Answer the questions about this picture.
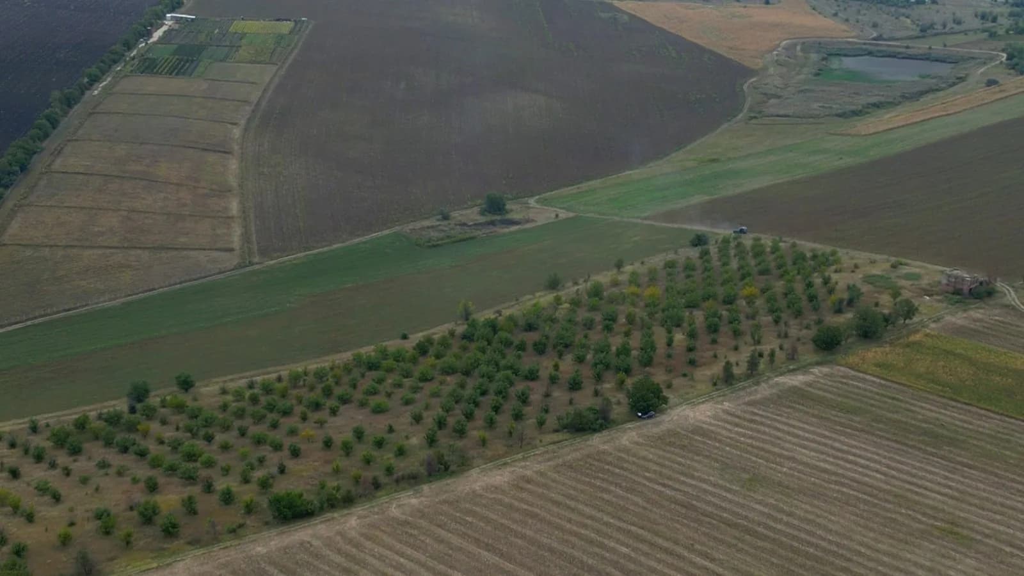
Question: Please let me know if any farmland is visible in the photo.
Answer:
Yes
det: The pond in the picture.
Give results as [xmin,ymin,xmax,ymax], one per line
[820,56,959,81]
